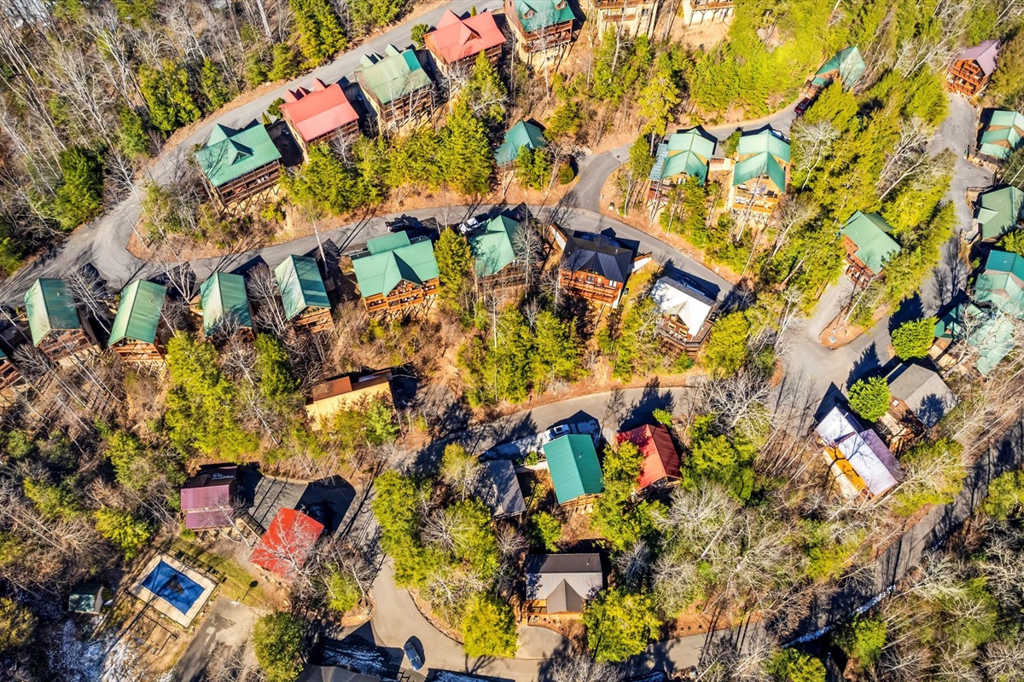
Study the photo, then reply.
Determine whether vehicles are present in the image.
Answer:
Yes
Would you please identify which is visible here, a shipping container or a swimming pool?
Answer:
swimming pool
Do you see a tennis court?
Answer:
No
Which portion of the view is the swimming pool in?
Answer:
bottom left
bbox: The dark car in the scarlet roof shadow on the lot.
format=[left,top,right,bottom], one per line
[307,504,339,526]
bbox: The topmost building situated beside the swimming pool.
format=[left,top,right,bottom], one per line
[180,466,244,537]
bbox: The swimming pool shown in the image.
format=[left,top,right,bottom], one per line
[128,553,217,626]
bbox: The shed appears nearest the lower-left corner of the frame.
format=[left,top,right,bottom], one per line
[68,585,108,615]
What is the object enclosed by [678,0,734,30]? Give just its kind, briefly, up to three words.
building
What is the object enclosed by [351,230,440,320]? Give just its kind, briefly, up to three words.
building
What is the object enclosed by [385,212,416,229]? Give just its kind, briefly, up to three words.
vehicle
